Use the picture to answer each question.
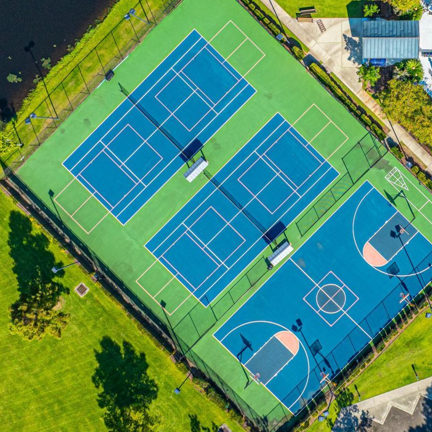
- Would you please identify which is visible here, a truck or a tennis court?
tennis court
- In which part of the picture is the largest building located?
top right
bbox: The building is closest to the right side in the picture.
[362,19,420,62]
